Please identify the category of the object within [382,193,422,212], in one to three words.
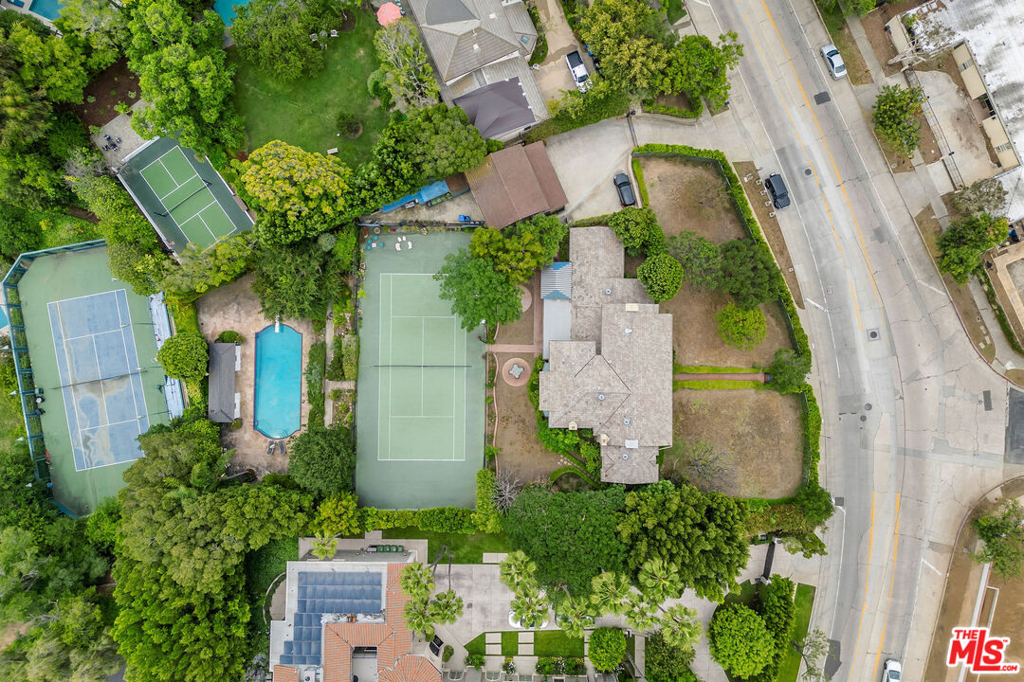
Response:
shed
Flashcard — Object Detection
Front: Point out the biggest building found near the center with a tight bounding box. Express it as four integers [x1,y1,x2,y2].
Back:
[540,225,676,487]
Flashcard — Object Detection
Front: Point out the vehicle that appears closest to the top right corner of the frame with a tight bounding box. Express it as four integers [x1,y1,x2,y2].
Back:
[818,42,847,82]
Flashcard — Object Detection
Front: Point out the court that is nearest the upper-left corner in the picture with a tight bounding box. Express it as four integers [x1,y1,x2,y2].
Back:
[120,129,254,269]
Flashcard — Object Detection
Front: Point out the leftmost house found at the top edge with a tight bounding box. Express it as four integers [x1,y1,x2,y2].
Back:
[409,0,553,146]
